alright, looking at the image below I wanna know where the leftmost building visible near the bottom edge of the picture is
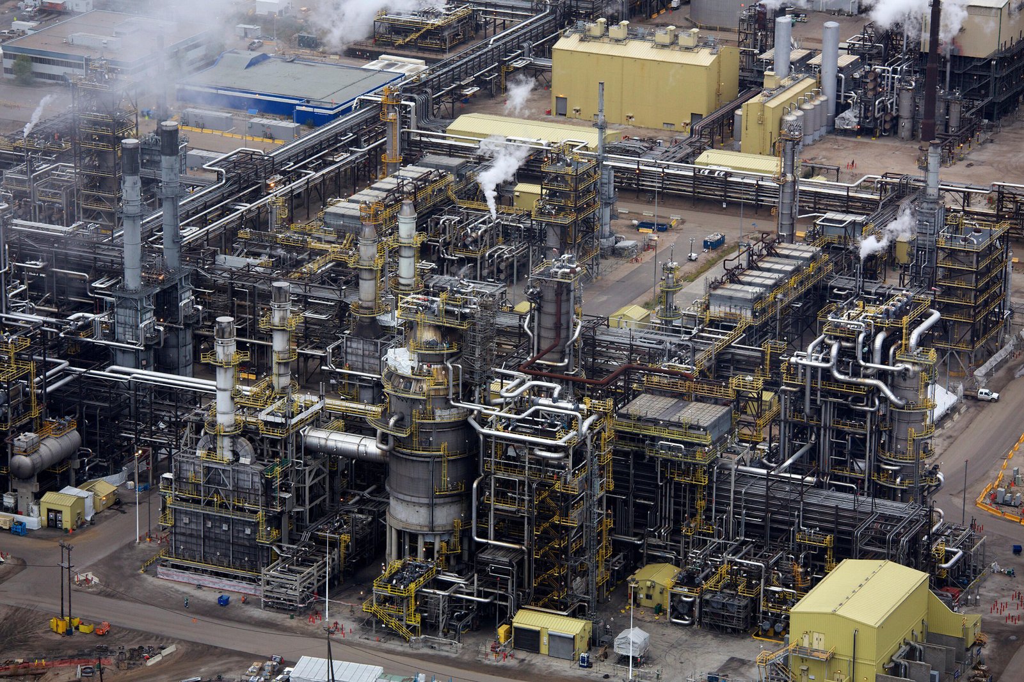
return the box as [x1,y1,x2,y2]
[510,609,591,660]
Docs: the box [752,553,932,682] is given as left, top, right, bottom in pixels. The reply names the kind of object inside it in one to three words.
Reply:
building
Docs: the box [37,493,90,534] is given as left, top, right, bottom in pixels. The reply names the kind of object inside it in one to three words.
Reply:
shed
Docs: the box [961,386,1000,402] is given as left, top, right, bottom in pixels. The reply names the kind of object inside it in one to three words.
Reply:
vehicle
